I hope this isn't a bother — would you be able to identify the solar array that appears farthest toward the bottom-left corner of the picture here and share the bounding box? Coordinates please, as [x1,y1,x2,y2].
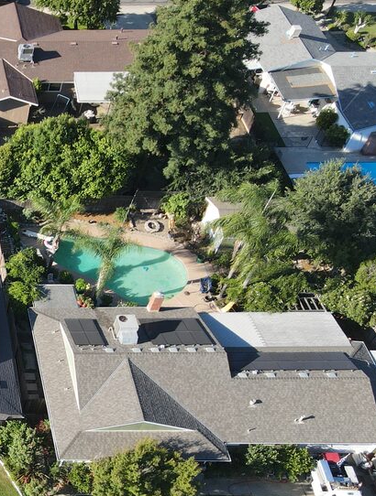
[64,318,106,344]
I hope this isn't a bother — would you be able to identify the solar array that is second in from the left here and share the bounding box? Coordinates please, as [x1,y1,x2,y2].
[136,318,214,344]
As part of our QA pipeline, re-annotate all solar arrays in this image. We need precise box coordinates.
[136,318,214,344]
[230,352,356,369]
[64,318,106,344]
